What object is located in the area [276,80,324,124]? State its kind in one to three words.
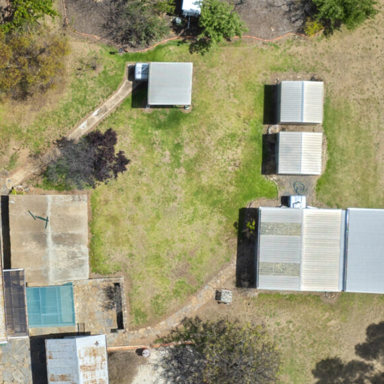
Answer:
shed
